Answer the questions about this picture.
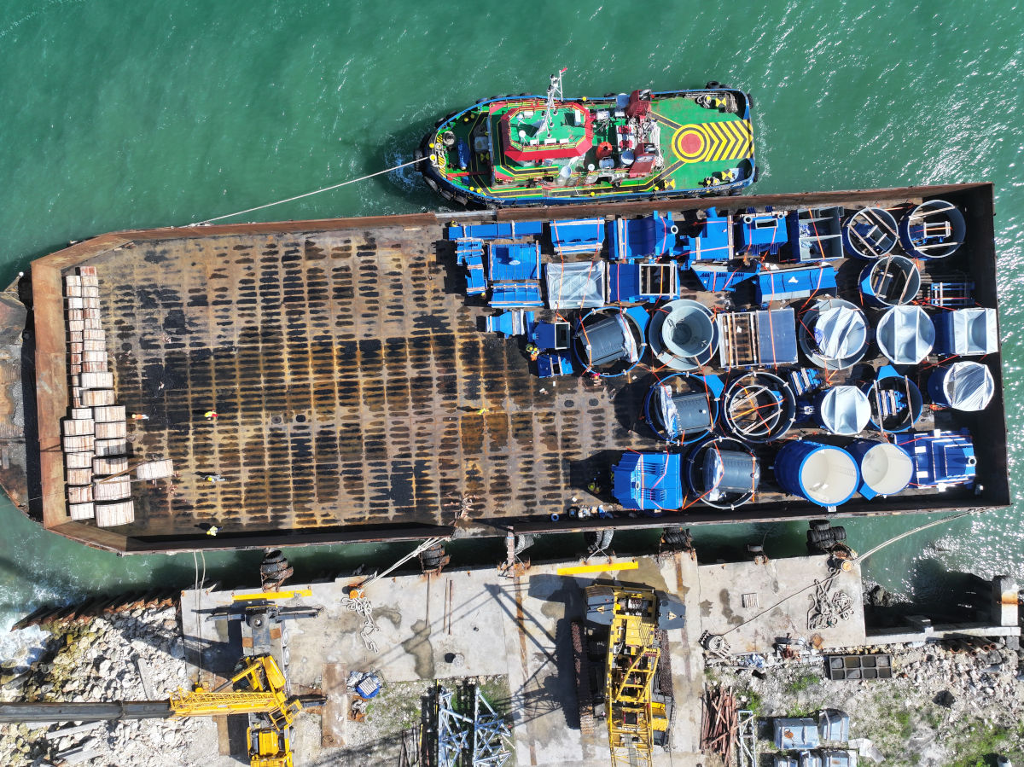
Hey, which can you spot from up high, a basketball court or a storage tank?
storage tank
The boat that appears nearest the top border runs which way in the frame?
from side to side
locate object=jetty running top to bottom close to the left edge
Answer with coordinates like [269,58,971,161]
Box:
[0,271,44,519]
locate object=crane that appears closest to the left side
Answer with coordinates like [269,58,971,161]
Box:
[0,602,333,767]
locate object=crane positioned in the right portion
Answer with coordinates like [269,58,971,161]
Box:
[570,578,685,767]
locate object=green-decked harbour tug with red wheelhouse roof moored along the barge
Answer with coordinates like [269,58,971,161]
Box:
[412,70,763,211]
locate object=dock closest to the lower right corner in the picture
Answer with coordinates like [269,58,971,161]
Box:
[982,569,1024,650]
